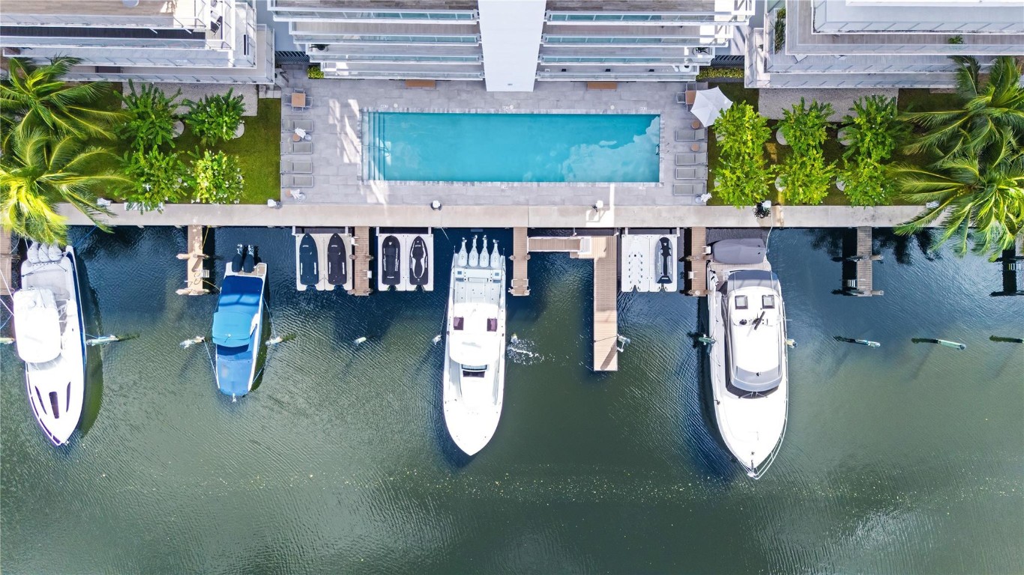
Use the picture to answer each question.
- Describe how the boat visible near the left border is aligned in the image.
up and down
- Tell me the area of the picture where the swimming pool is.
top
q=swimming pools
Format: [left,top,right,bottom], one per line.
[356,108,675,187]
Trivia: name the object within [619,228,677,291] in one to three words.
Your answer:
pier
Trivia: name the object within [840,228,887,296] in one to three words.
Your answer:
pier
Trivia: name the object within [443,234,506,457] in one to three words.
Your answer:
boat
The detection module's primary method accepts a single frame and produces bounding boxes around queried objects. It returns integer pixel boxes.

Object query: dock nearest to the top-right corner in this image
[1000,228,1024,296]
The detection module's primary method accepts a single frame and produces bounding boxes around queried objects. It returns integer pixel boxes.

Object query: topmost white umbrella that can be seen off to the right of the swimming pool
[690,86,733,127]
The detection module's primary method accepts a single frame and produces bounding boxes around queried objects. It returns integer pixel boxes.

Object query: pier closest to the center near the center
[508,228,533,295]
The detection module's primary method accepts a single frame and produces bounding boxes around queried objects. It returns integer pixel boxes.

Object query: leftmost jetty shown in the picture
[0,228,27,293]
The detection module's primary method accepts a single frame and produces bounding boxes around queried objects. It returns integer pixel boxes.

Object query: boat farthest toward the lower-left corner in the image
[13,244,95,447]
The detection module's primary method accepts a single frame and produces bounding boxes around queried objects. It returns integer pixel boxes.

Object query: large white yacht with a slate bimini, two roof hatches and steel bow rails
[705,258,791,481]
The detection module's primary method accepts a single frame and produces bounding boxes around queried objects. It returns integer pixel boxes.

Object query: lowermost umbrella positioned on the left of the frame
[289,188,309,203]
